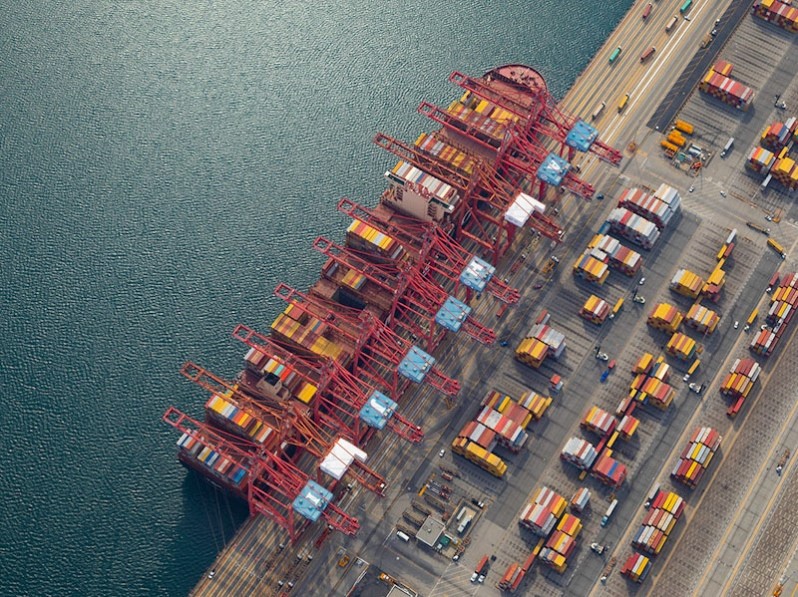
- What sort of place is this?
port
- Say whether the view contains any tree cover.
No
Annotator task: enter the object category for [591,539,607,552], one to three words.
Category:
vehicle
